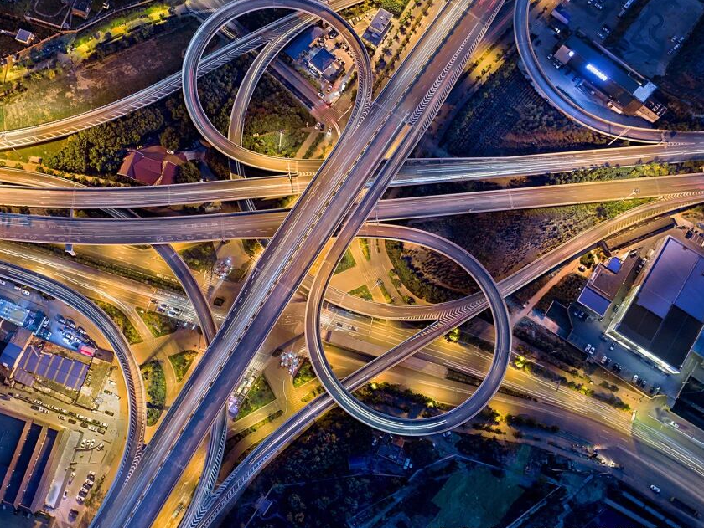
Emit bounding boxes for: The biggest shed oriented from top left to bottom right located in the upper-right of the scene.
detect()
[565,36,644,122]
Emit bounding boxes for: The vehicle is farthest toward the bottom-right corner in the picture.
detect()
[670,497,704,520]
